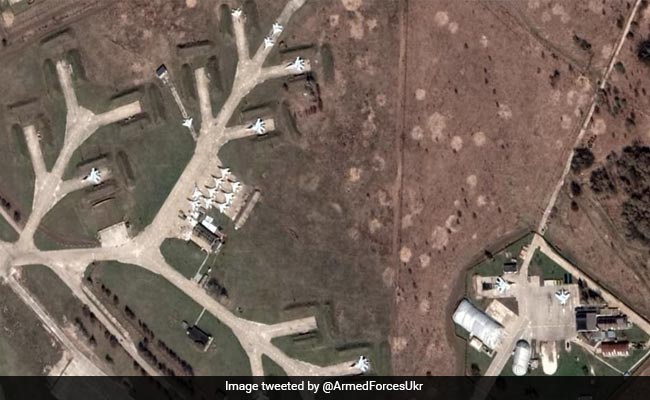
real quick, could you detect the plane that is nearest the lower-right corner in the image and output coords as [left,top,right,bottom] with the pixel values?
[555,287,569,307]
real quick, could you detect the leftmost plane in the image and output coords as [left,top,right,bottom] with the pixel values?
[82,170,103,182]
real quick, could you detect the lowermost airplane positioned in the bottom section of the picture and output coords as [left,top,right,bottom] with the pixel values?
[351,357,371,370]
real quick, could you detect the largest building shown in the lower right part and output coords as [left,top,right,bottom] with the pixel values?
[451,299,507,347]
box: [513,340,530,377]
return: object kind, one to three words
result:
hangar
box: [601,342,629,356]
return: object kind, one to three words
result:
building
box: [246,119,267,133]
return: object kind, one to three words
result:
airplane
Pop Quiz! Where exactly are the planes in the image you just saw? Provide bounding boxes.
[285,58,306,71]
[189,200,203,211]
[222,192,237,202]
[212,177,227,187]
[555,287,569,307]
[182,116,192,130]
[351,357,371,370]
[194,186,204,201]
[232,6,242,22]
[265,34,274,50]
[205,187,220,197]
[493,279,513,292]
[246,119,267,133]
[228,180,243,191]
[218,168,233,179]
[202,197,216,208]
[82,170,103,182]
[273,21,283,36]
[215,203,230,213]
